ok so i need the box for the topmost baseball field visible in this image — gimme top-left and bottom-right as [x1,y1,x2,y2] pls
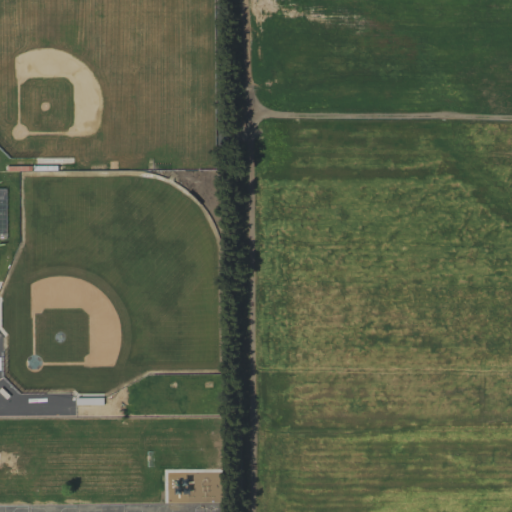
[0,0,217,169]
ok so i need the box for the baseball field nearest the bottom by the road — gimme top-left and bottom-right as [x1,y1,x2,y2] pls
[0,170,222,395]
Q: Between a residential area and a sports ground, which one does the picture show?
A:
sports ground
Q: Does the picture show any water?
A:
No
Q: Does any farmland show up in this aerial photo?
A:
Yes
